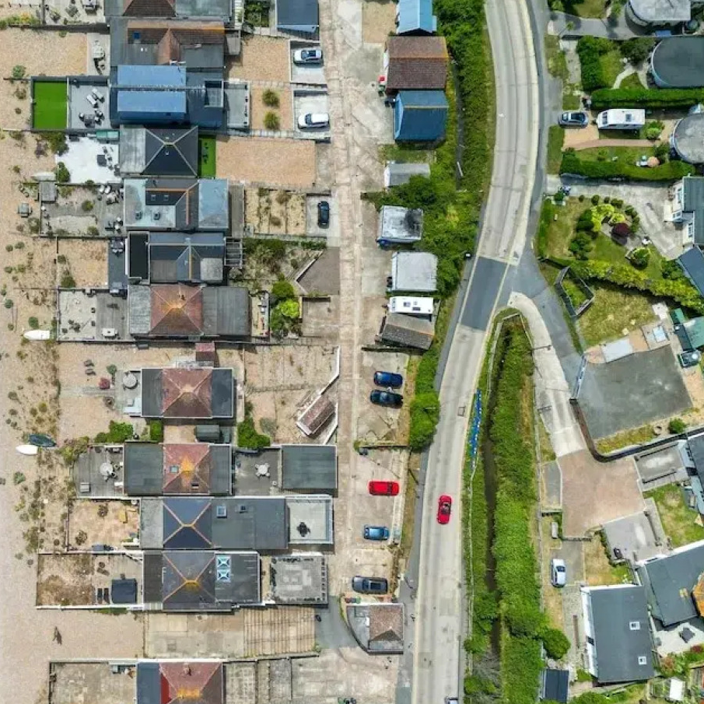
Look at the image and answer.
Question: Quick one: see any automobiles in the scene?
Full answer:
Yes, the picture does show an automobile.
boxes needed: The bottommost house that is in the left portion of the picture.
[137,660,224,704]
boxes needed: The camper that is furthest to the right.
[600,106,650,128]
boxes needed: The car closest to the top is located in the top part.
[295,46,322,61]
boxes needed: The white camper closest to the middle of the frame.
[383,297,436,313]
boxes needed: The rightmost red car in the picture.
[438,497,453,524]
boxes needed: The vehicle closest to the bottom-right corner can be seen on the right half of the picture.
[553,558,569,589]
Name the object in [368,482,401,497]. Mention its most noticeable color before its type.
red car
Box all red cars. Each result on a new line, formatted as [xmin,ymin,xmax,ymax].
[368,482,401,497]
[438,497,453,524]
